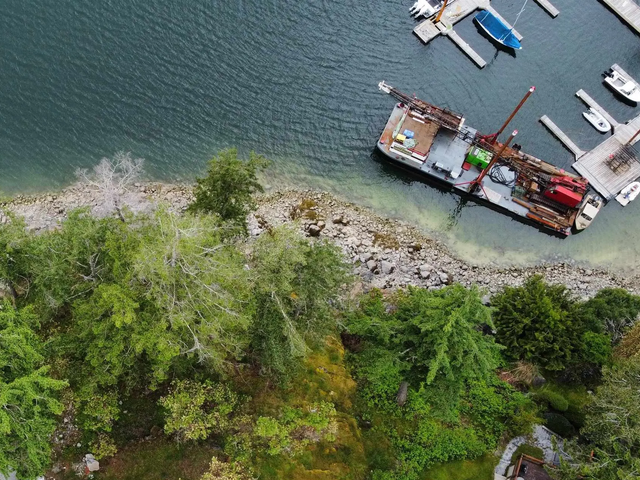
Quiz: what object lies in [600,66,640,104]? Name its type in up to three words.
boat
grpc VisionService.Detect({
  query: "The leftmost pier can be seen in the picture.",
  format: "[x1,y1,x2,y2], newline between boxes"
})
[413,18,442,46]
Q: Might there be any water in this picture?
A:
Yes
